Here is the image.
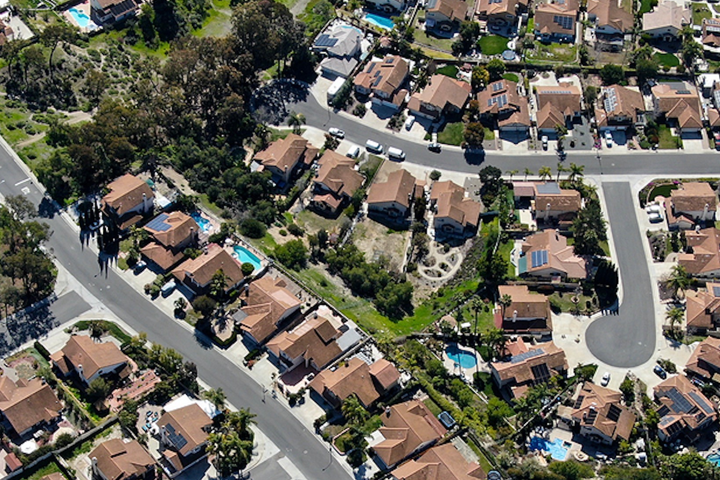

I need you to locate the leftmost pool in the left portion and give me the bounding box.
[69,8,91,28]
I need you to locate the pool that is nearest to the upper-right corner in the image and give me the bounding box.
[358,10,395,31]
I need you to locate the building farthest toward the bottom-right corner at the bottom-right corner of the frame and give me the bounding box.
[654,372,717,441]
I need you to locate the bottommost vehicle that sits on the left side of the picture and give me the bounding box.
[160,279,179,292]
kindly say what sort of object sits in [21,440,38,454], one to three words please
umbrella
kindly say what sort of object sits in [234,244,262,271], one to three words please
swimming pool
